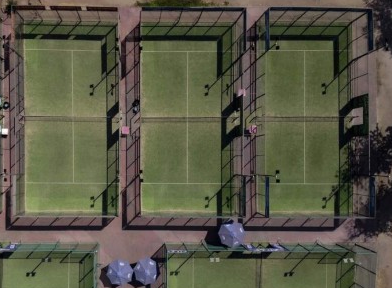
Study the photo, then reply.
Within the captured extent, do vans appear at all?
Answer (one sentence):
No, no van is visible in the scene.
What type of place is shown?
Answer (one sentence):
The picture captures a sports ground.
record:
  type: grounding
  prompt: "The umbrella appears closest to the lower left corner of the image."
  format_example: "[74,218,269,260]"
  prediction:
[106,257,132,284]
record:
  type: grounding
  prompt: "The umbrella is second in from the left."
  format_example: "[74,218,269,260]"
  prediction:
[132,256,158,282]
